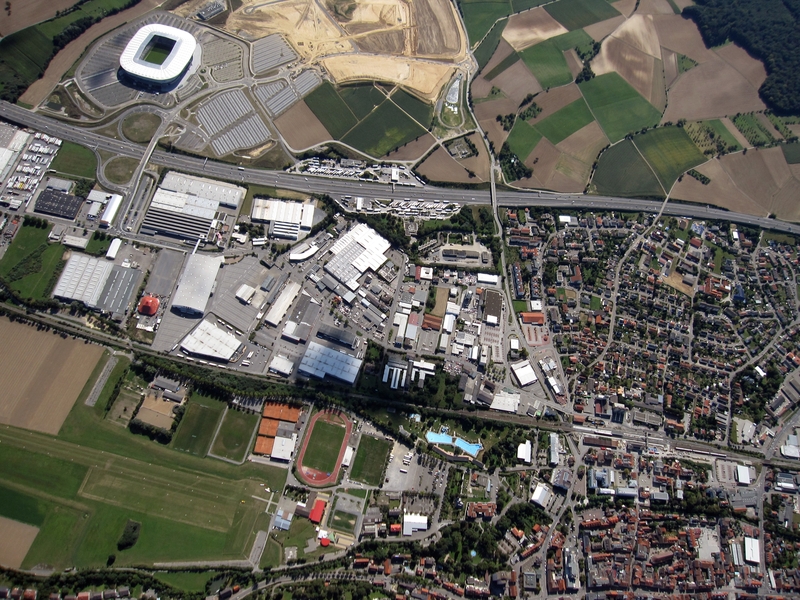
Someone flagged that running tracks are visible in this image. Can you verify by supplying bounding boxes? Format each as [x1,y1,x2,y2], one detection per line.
[298,409,352,487]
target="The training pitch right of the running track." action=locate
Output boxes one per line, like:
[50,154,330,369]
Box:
[351,434,391,485]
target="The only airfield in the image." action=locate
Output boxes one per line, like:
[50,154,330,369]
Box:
[0,427,276,534]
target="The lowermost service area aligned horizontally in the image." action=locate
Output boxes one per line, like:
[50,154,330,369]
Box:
[330,195,462,220]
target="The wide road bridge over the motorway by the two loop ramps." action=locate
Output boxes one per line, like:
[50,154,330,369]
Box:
[121,115,171,207]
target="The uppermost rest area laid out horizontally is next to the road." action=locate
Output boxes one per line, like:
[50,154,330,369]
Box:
[288,159,426,185]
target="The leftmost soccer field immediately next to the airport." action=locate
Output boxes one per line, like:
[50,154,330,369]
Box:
[174,397,222,451]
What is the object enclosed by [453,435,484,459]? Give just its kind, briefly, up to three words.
swimming pool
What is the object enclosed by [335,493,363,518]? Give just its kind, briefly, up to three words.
sports court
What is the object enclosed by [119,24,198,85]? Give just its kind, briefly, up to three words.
stadium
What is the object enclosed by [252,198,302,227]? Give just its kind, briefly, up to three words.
building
